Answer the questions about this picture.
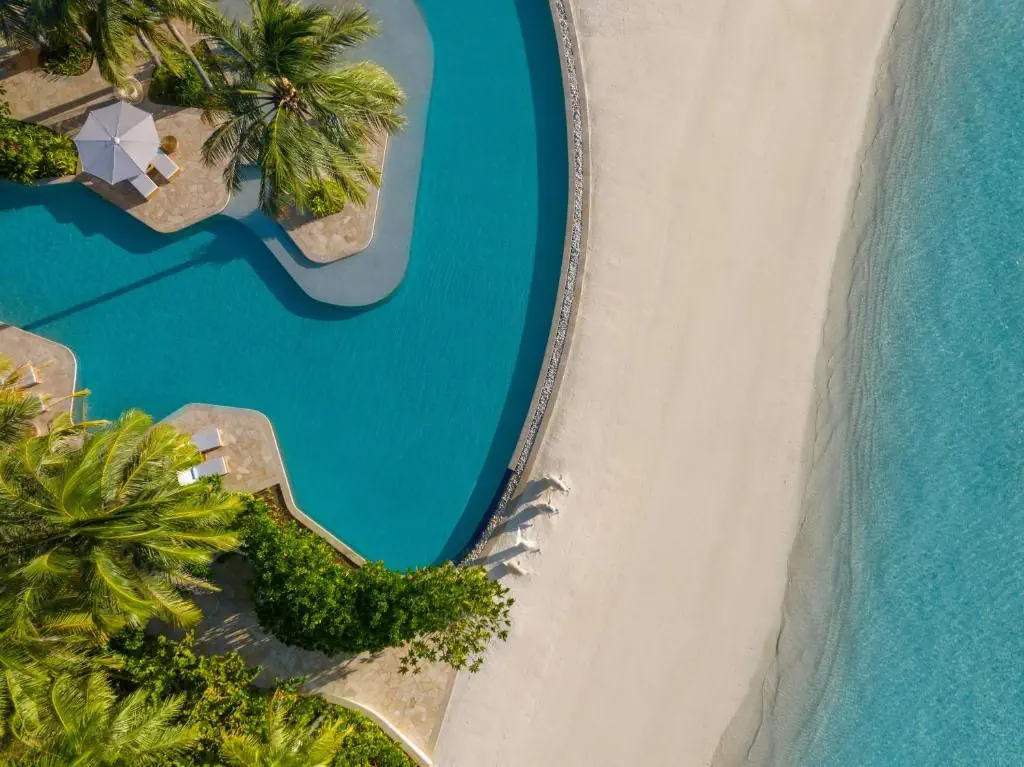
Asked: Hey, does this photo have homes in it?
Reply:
No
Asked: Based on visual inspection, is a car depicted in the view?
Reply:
No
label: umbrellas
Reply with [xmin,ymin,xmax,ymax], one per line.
[73,98,161,186]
